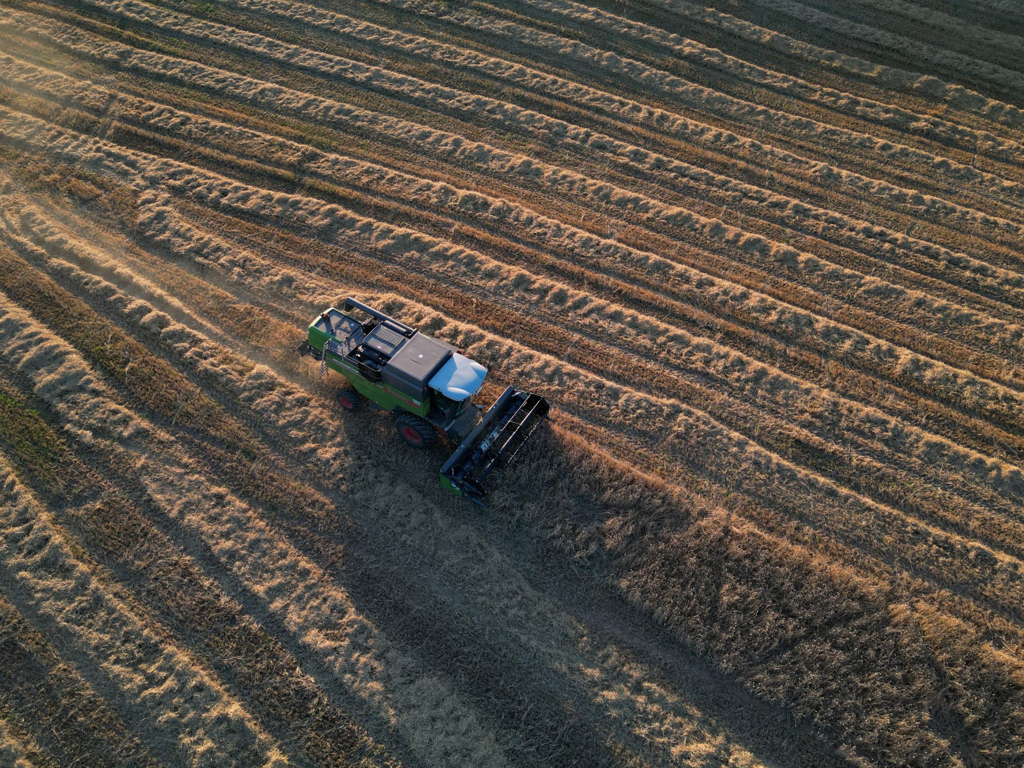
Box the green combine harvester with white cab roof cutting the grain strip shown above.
[297,296,554,509]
